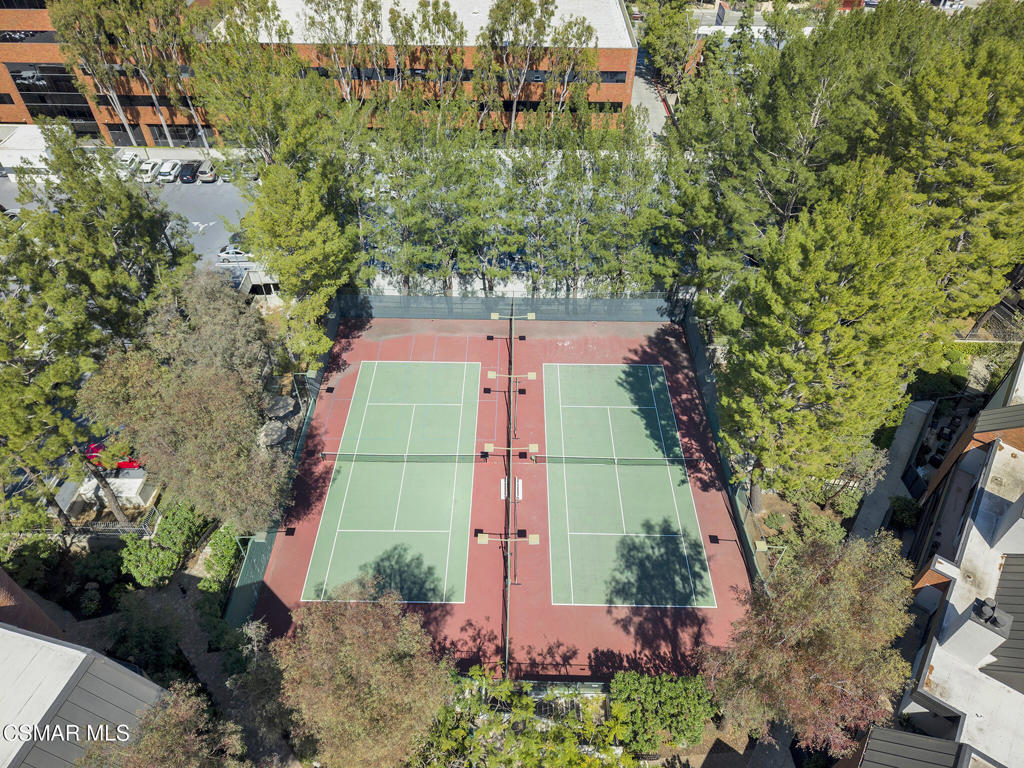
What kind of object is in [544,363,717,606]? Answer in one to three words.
tennis court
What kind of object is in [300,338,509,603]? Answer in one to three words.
tennis court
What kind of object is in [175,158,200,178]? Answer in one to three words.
car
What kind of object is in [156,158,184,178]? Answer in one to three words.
car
